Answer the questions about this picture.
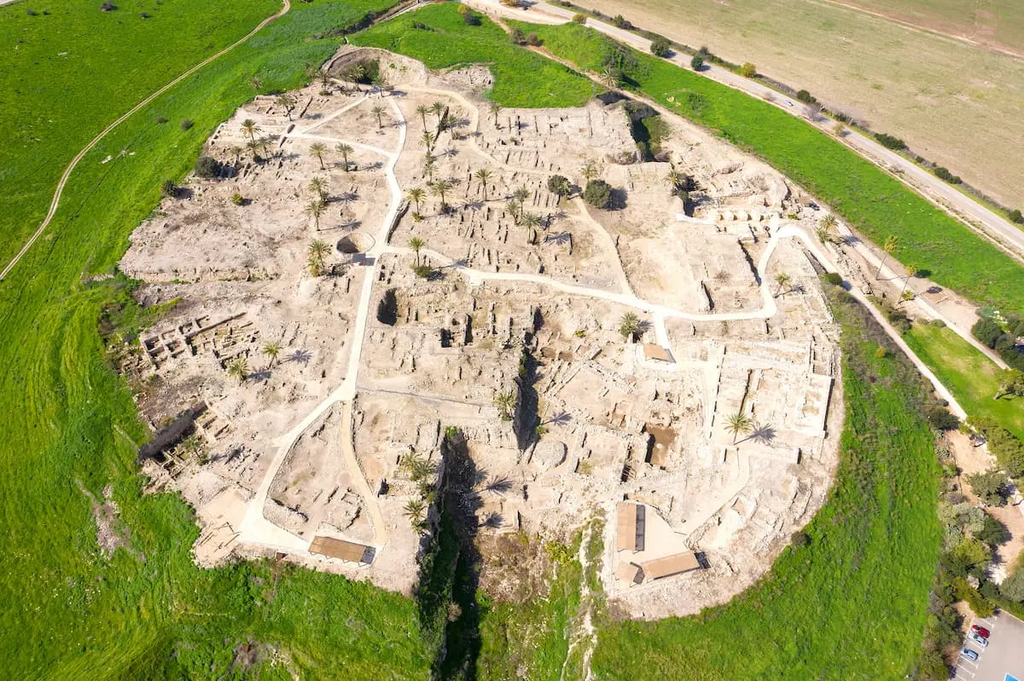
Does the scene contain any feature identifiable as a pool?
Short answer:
No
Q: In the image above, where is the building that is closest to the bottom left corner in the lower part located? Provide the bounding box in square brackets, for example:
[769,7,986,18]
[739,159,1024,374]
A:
[153,447,192,478]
